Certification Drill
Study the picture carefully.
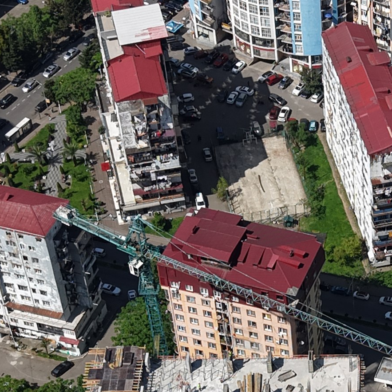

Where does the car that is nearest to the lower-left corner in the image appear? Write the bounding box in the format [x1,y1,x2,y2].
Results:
[50,361,76,380]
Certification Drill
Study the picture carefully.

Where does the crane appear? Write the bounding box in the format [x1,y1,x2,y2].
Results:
[49,208,392,364]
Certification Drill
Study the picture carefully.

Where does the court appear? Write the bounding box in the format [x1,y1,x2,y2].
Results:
[215,135,305,221]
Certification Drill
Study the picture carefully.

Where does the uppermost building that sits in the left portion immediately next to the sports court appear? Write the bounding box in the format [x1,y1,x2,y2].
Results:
[93,0,200,239]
